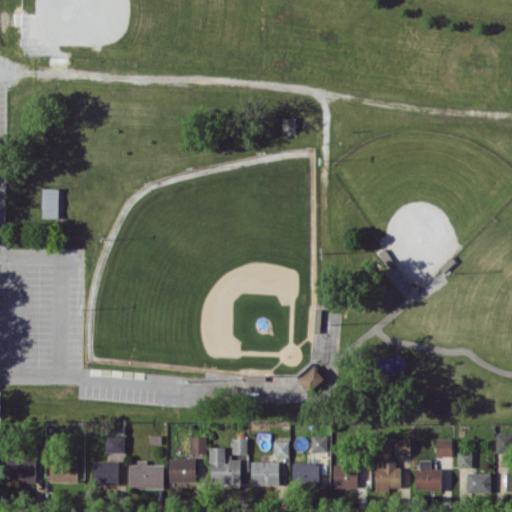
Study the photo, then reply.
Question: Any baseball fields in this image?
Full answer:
Yes, the image includes a baseball field.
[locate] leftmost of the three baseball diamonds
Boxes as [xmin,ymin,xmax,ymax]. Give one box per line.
[35,0,128,58]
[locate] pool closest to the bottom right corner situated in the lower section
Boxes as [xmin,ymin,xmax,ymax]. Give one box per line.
[294,436,310,453]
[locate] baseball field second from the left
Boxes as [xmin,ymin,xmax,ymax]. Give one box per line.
[89,149,317,378]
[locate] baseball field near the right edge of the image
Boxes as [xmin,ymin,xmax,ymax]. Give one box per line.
[332,130,512,291]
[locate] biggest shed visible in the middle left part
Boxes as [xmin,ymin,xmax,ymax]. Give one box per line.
[42,188,60,219]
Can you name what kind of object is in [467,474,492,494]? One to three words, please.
house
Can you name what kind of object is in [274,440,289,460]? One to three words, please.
building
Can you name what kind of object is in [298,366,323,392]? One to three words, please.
building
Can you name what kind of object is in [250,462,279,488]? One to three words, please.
house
